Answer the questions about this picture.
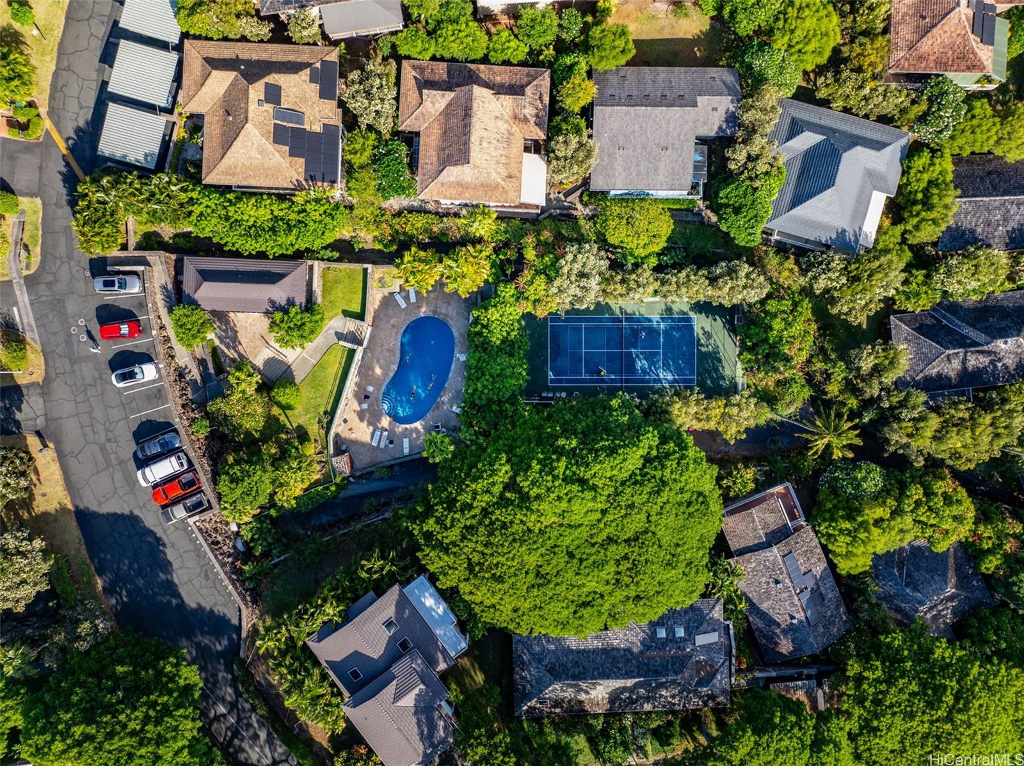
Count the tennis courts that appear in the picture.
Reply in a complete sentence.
In total, there is 1 tennis court in the scene.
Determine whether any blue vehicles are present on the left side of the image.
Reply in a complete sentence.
Yes, a blue vehicle appears on the left side of the image.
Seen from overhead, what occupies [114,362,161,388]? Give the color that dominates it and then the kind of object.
white car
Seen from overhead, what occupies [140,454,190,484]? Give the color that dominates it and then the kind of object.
white van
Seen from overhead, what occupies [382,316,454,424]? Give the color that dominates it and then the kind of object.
blue swimming pool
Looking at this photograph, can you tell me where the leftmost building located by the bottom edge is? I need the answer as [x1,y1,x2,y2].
[306,575,468,766]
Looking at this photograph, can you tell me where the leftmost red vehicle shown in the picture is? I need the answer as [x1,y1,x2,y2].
[102,320,145,341]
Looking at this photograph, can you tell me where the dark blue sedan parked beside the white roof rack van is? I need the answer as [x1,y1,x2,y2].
[138,430,184,457]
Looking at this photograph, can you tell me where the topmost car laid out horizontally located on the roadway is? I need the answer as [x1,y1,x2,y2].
[97,273,144,295]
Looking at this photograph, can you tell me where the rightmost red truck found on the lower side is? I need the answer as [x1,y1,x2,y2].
[156,473,205,503]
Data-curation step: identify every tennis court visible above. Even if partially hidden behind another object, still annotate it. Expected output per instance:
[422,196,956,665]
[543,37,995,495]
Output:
[516,298,742,415]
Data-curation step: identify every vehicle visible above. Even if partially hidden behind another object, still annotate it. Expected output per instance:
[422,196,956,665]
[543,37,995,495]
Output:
[140,454,190,484]
[102,320,145,341]
[114,362,161,388]
[97,273,144,295]
[165,493,212,523]
[138,430,184,457]
[156,473,205,503]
